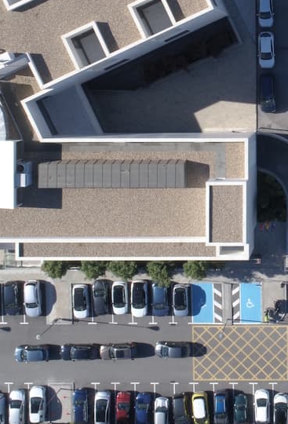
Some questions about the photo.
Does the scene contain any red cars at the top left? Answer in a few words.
No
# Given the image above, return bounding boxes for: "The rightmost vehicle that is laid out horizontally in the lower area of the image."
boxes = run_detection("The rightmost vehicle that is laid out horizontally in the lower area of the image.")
[156,342,193,359]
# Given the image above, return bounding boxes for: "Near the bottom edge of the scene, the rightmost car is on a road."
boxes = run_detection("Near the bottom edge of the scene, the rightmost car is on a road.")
[272,392,288,424]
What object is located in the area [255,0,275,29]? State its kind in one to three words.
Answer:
car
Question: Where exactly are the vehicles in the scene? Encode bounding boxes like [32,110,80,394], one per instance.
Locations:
[72,388,90,424]
[24,280,42,316]
[258,73,277,113]
[7,389,27,424]
[171,284,189,316]
[129,280,148,316]
[255,0,275,29]
[15,344,50,363]
[151,283,168,316]
[90,280,109,314]
[193,391,209,424]
[27,386,46,423]
[100,343,136,362]
[256,31,275,70]
[72,284,89,317]
[253,388,270,422]
[153,397,169,424]
[61,344,97,362]
[232,393,248,423]
[272,392,288,424]
[114,391,132,424]
[212,389,229,423]
[2,281,22,315]
[92,391,112,424]
[134,391,152,424]
[111,281,128,314]
[0,392,7,424]
[156,342,193,359]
